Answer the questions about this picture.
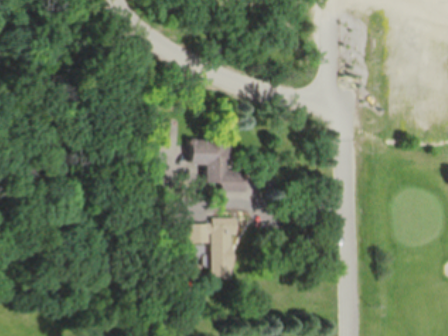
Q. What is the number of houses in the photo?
2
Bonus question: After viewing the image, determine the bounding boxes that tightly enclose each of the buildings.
[193,138,248,194]
[192,218,236,278]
